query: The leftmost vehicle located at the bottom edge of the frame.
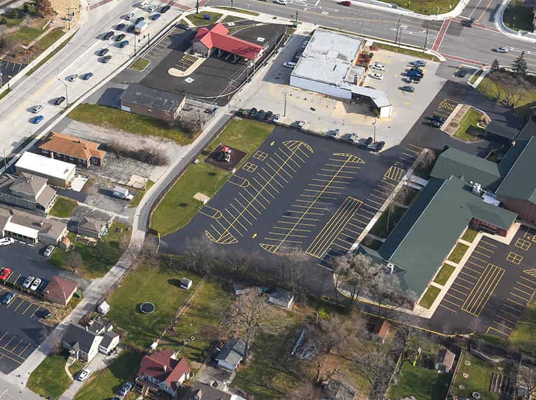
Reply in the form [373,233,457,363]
[78,368,90,382]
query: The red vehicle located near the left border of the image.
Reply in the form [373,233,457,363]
[0,267,12,279]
